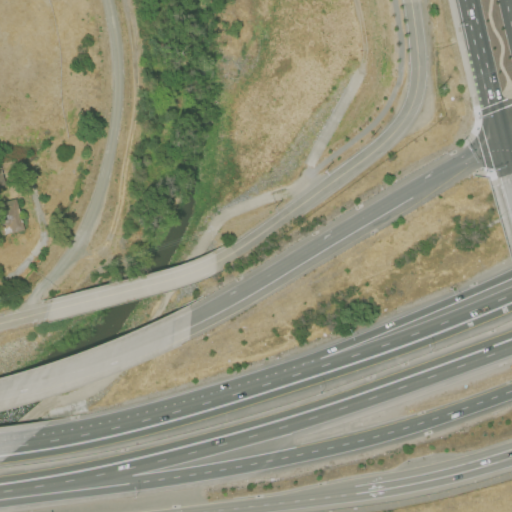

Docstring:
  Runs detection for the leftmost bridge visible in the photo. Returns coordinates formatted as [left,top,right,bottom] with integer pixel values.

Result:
[0,419,47,464]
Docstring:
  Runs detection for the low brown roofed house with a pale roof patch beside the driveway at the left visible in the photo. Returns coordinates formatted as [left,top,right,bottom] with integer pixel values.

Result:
[4,200,24,237]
